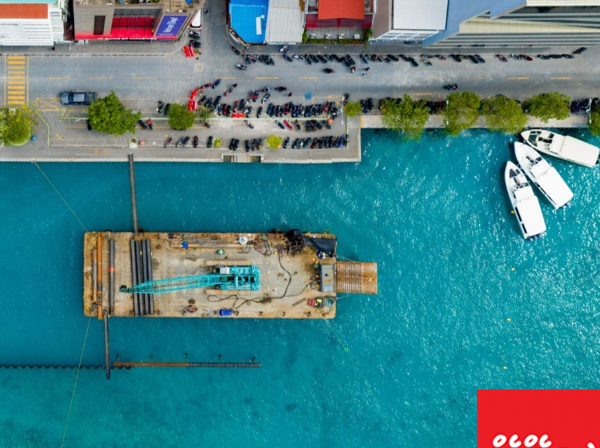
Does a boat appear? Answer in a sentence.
Yes, this view includes a boat.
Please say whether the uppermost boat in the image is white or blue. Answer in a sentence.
The uppermost boat is white.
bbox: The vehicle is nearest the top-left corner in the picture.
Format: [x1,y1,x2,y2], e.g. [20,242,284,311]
[60,89,94,105]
